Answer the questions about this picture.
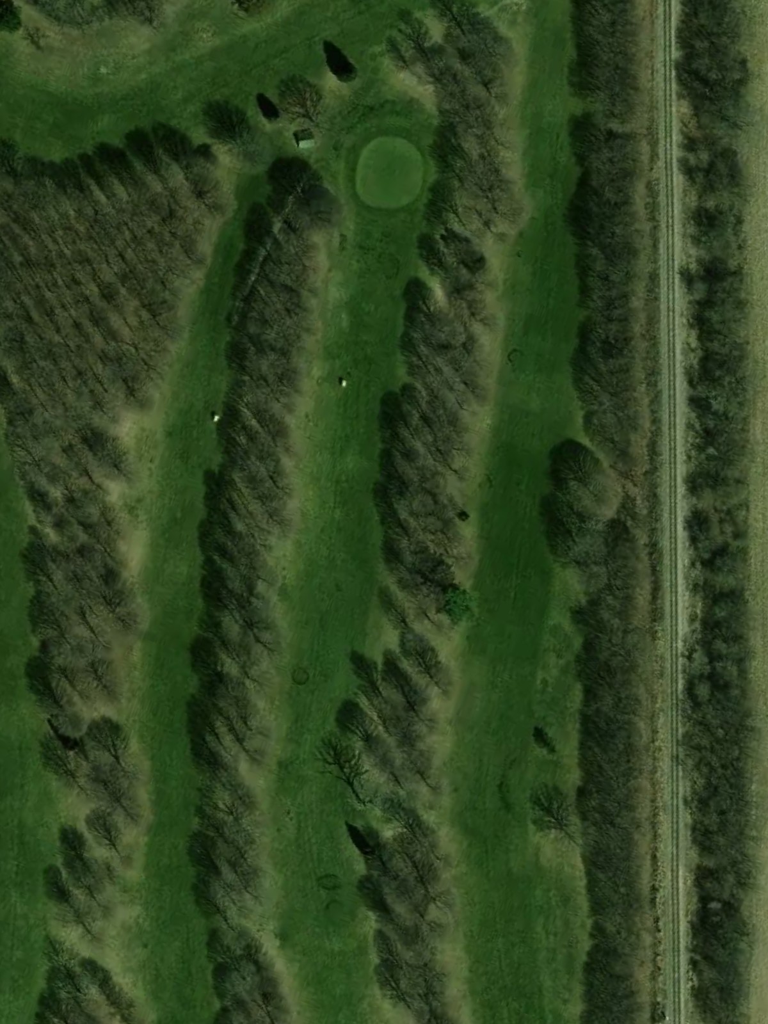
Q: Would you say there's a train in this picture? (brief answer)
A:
No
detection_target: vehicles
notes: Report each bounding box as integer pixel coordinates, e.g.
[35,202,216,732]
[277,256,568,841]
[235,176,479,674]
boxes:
[213,413,220,421]
[341,379,346,387]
